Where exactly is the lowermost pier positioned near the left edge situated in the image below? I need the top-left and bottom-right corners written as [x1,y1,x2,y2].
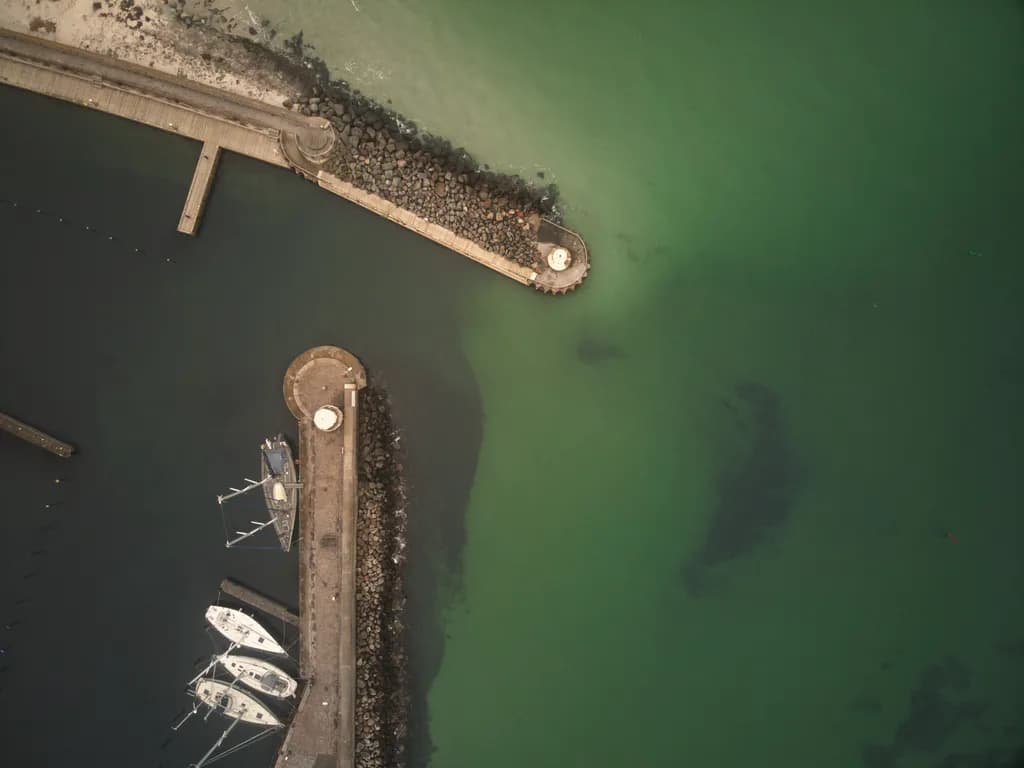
[0,412,75,457]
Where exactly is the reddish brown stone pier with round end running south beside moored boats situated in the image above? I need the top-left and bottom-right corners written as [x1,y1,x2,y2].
[275,345,370,768]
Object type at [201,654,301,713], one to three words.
boat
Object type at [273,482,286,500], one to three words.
boat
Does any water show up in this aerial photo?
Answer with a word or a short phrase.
Yes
